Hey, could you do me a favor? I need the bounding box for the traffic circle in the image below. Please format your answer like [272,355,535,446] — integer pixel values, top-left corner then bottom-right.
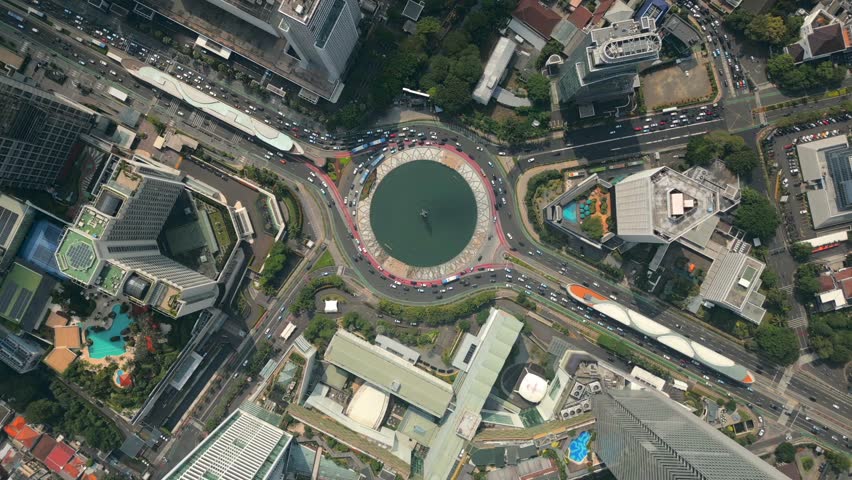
[355,146,493,283]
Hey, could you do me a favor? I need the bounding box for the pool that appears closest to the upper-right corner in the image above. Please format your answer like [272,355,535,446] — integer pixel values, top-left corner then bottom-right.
[562,200,577,223]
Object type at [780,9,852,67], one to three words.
house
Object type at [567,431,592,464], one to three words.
swimming pool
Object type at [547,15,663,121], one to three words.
building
